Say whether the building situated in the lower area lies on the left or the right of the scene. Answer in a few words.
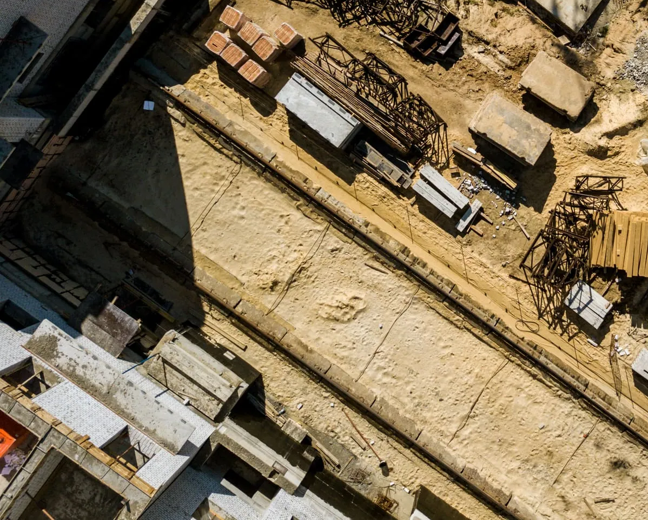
left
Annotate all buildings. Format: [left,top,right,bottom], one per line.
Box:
[0,0,139,227]
[0,226,399,520]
